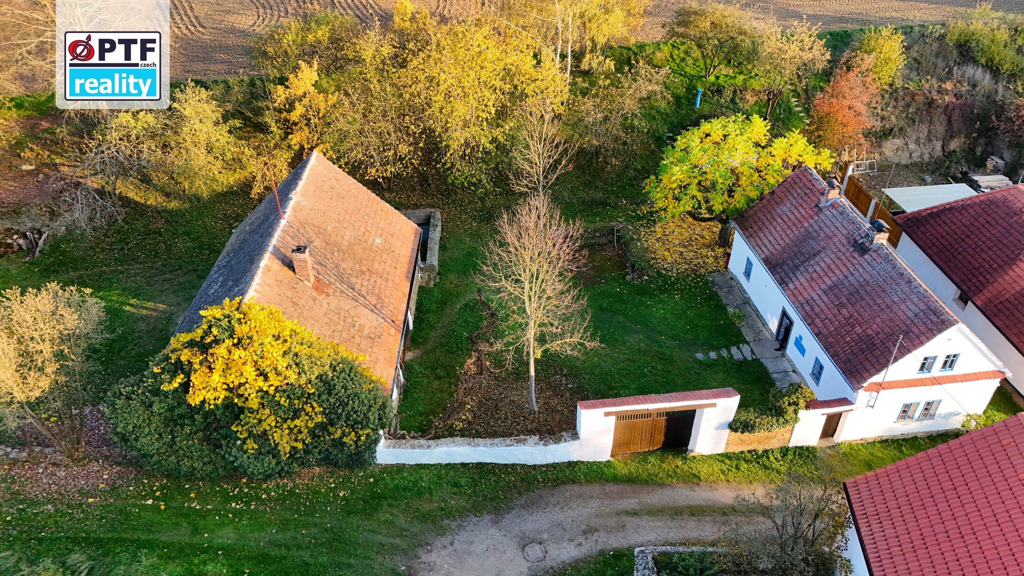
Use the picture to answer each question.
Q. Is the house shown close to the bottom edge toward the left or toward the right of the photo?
right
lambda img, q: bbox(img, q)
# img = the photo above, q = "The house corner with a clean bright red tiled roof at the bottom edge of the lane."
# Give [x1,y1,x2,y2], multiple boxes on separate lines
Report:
[826,410,1024,576]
